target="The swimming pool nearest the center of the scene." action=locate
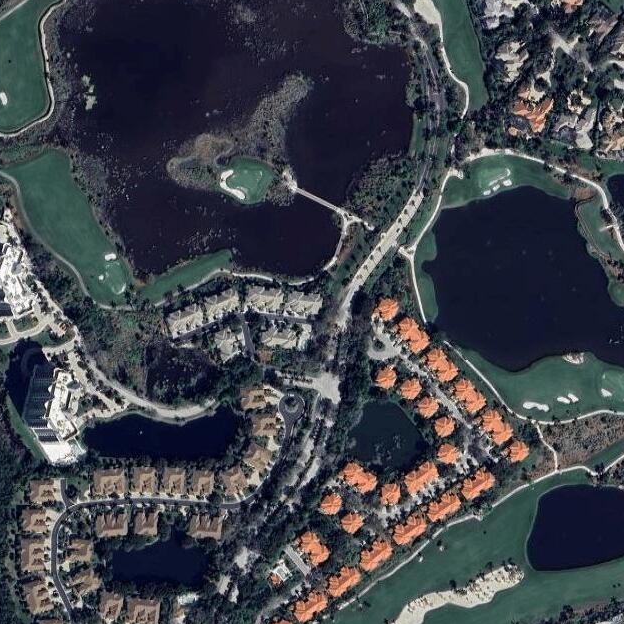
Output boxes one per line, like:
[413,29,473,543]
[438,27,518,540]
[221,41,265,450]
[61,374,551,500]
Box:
[298,328,312,350]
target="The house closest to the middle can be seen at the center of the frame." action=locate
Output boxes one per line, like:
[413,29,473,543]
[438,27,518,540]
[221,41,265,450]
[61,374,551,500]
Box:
[283,293,322,314]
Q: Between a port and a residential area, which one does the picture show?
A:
residential area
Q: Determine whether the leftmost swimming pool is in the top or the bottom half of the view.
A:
bottom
